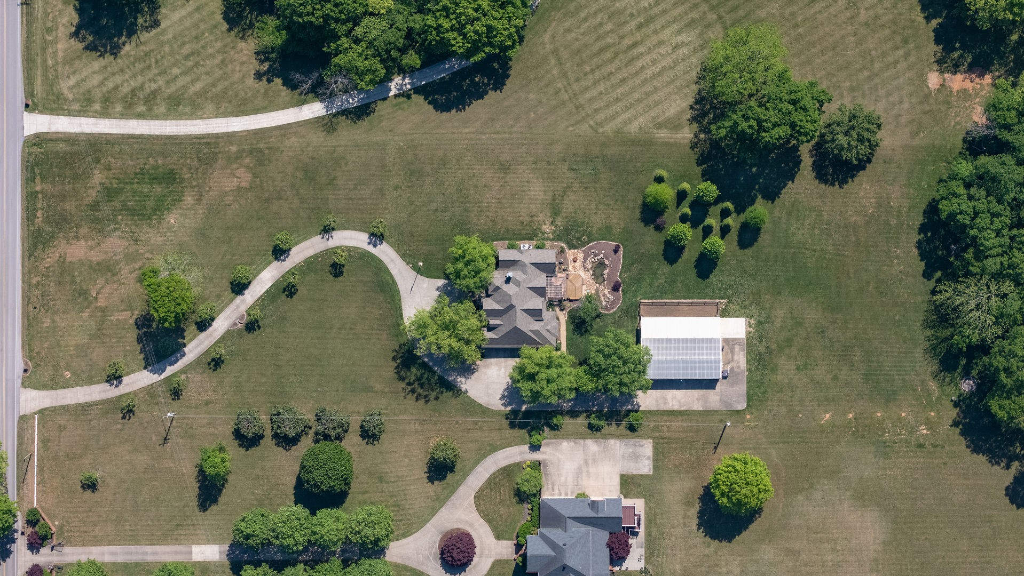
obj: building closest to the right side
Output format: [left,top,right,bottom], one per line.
[641,317,722,381]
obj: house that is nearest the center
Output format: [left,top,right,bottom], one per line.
[481,249,559,349]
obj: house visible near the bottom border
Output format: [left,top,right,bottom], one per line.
[526,498,623,576]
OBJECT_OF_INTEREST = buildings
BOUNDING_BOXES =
[641,317,722,381]
[481,249,559,349]
[526,498,623,576]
